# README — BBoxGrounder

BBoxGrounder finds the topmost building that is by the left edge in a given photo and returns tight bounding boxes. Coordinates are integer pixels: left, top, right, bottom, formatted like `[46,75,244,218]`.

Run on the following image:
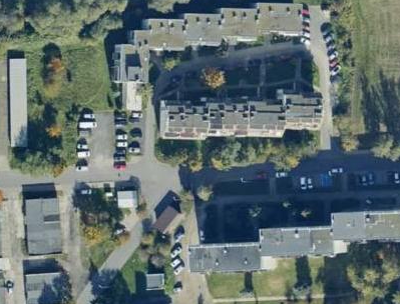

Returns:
[10,59,30,147]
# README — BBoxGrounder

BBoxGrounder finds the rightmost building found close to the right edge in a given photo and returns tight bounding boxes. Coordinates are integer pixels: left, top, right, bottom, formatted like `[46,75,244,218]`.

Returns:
[331,212,400,243]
